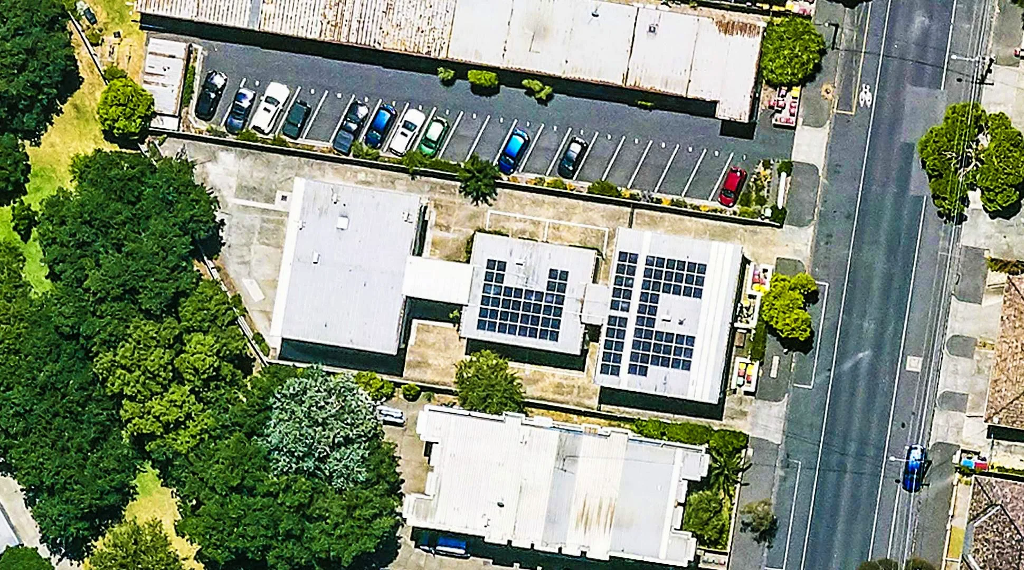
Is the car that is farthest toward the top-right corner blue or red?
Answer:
red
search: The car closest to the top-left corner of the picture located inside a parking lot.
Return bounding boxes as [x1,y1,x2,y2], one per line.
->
[198,70,226,121]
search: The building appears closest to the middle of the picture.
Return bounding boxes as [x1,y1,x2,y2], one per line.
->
[459,231,601,356]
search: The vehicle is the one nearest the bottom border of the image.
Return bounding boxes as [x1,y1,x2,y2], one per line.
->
[417,531,472,558]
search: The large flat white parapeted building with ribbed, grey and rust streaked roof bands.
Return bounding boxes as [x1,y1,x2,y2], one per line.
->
[406,405,713,565]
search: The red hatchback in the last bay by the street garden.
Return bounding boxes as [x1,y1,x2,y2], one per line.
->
[719,166,748,208]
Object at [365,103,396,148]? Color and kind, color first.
blue car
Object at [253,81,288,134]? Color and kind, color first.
white car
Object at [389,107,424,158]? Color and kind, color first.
white car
